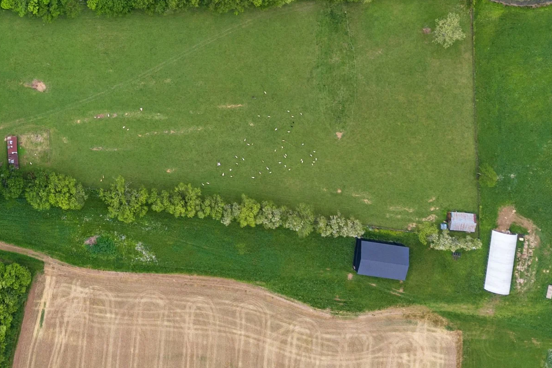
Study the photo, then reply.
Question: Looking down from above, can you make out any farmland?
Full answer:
Yes, there's farmland in this view.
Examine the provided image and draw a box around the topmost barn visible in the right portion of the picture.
[447,211,478,232]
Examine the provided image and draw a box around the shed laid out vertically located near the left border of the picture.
[4,136,19,168]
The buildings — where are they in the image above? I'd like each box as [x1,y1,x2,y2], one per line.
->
[484,231,519,297]
[4,136,19,168]
[447,211,478,232]
[353,238,411,282]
